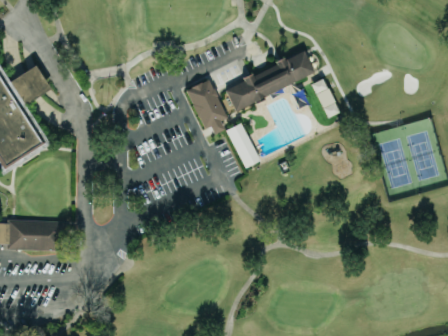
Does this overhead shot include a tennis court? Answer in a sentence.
Yes, this view includes a tennis court.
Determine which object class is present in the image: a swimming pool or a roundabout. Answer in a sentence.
The one in the frame is a swimming pool.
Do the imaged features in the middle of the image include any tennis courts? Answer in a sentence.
No, the scene shows no tennis court in the middle of the image.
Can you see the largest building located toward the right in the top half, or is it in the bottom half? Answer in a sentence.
The largest building located toward the right is in the top half of the image.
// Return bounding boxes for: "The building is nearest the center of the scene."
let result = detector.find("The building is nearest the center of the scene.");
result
[227,124,260,169]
